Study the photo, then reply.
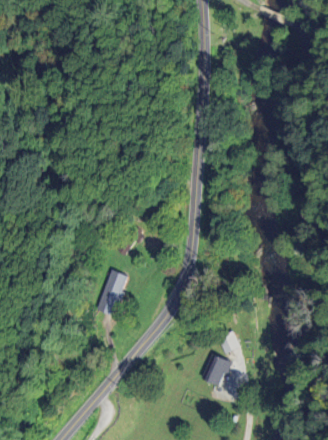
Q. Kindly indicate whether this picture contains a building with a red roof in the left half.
No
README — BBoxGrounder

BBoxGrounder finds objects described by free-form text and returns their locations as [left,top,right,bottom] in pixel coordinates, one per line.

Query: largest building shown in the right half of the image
[204,355,234,386]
